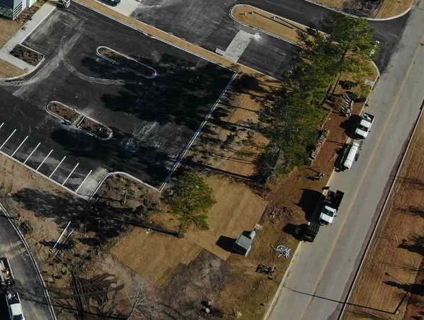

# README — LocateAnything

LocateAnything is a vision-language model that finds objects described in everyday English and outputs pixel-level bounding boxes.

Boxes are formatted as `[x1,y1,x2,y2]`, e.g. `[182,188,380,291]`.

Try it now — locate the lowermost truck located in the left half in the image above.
[5,289,26,320]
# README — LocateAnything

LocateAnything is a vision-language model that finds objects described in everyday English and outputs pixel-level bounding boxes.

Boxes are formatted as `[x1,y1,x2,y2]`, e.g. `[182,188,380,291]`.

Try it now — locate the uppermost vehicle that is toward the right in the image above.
[357,110,376,138]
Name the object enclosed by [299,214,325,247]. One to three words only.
truck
